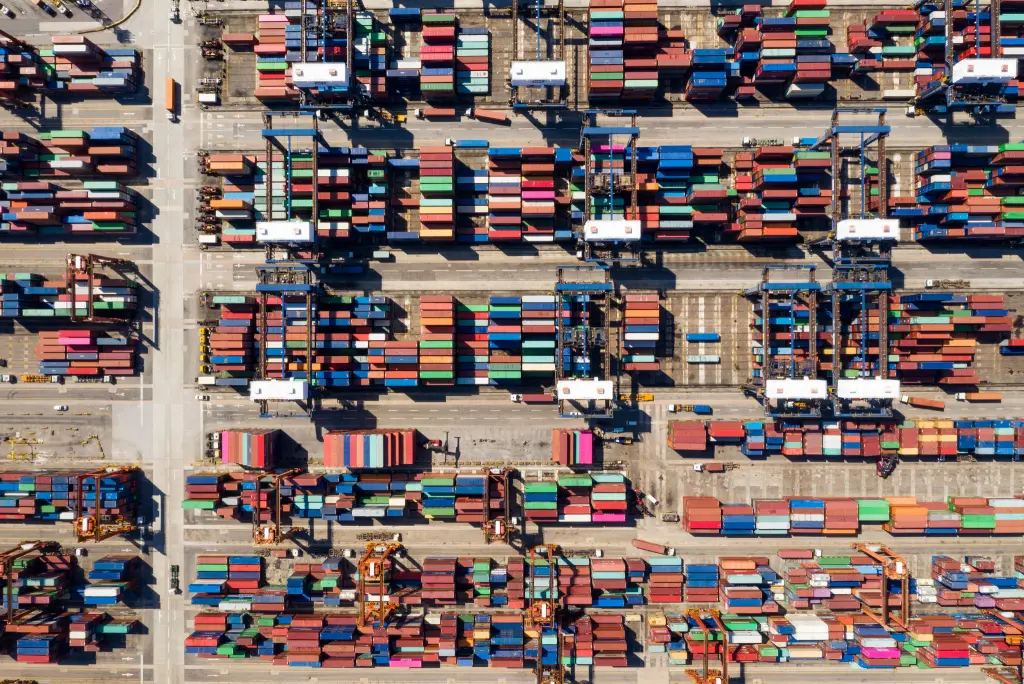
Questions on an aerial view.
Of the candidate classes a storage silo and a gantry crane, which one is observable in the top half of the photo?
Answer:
gantry crane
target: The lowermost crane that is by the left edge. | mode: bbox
[0,534,58,624]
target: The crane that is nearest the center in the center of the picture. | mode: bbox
[548,266,614,418]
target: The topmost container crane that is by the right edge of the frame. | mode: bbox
[906,0,1014,109]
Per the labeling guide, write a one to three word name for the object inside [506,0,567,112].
container crane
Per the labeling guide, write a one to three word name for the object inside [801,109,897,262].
container crane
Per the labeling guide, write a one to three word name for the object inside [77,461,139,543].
crane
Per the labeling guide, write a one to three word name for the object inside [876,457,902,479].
work vehicle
